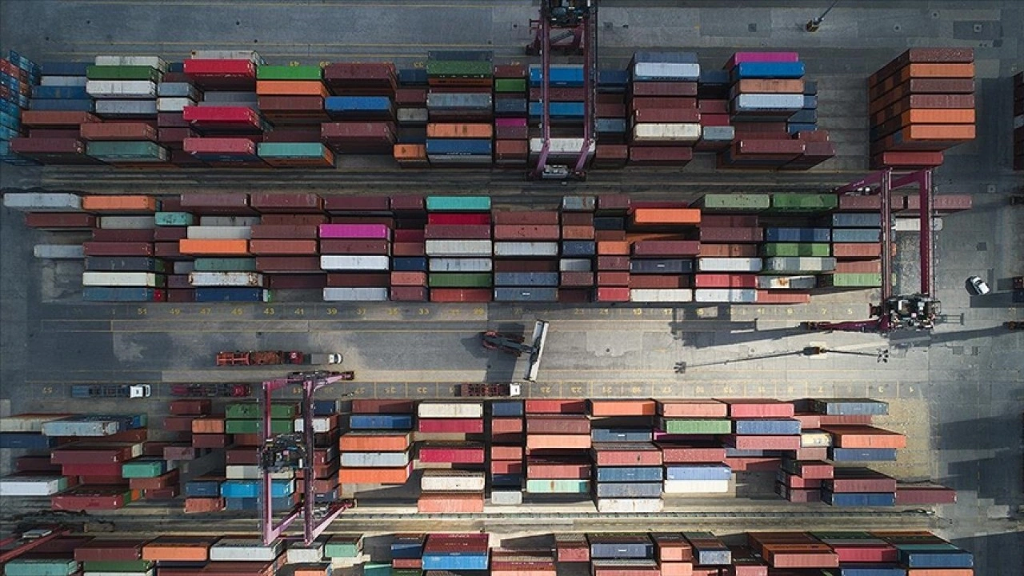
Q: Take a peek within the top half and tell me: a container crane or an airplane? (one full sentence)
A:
Visible within the top half is a container crane.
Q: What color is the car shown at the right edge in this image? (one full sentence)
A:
The car shown at the right edge is white.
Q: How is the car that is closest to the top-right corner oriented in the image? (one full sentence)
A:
From this overhead view, the car that is closest to the top-right corner appears to run at an angle.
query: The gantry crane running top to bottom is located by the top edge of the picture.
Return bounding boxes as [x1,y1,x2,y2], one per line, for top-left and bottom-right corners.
[517,0,594,175]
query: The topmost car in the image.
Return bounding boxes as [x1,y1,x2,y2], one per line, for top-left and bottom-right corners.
[969,275,990,296]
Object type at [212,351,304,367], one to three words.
vehicle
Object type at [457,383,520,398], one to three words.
vehicle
